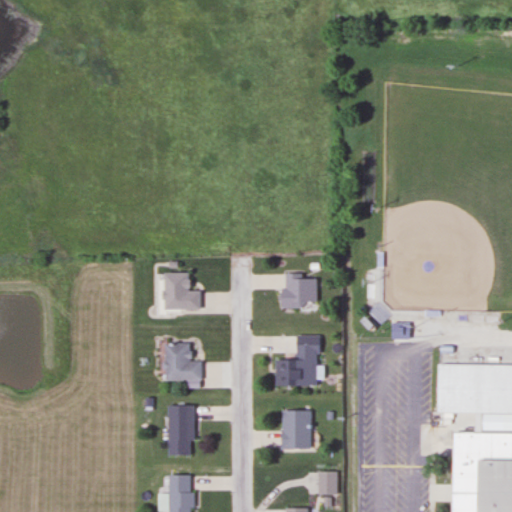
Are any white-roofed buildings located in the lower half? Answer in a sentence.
Yes, a white-roofed building can be seen in the lower half.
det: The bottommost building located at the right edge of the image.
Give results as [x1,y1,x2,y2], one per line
[452,433,512,512]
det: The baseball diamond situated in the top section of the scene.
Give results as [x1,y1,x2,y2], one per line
[384,84,512,310]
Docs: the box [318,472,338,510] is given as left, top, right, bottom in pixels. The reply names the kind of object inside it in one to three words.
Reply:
house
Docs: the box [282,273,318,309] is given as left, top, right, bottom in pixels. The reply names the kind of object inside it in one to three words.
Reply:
house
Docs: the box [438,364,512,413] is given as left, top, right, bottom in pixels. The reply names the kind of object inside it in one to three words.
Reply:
building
